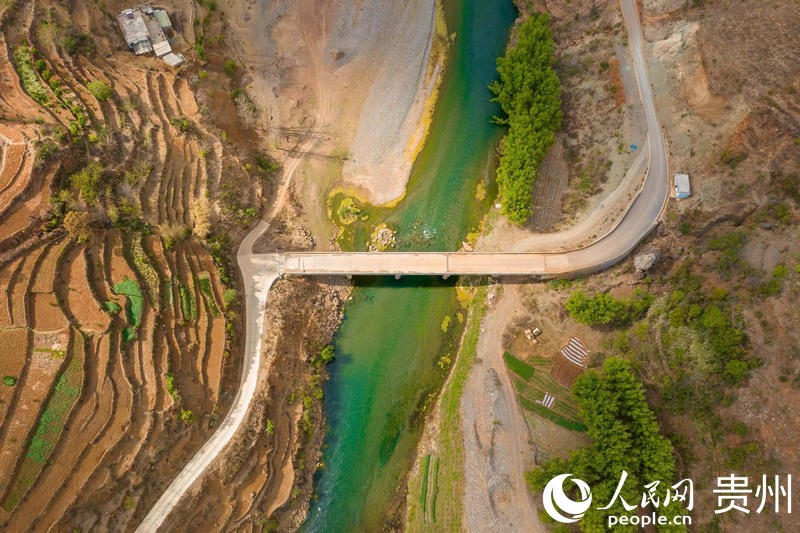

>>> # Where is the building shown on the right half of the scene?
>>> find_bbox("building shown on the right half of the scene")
[672,173,689,199]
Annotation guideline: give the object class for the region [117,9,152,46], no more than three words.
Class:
house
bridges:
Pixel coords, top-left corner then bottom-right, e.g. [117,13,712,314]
[284,252,546,279]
